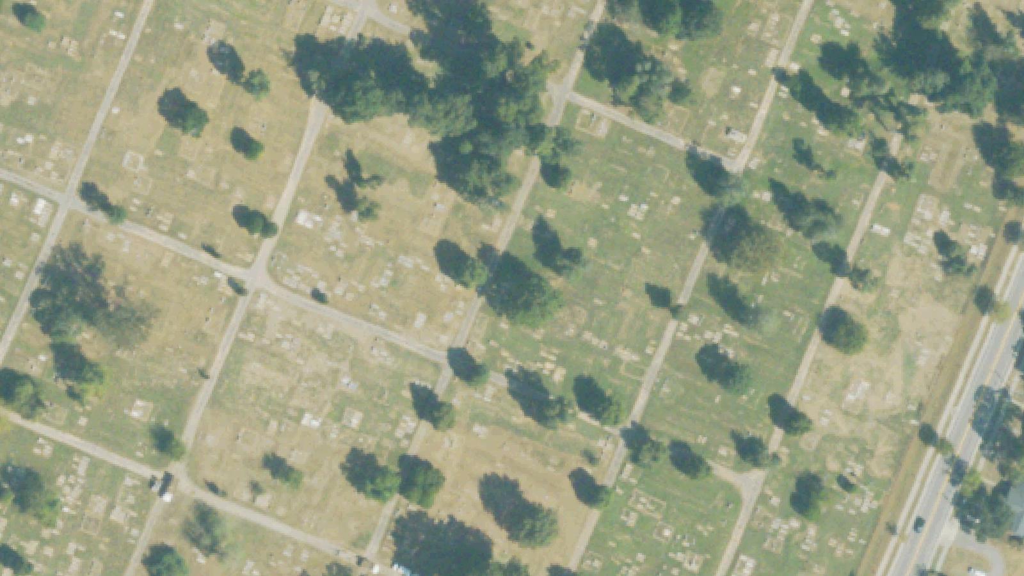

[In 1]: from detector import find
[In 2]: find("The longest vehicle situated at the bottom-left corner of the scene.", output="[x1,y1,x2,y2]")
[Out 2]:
[159,472,174,494]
